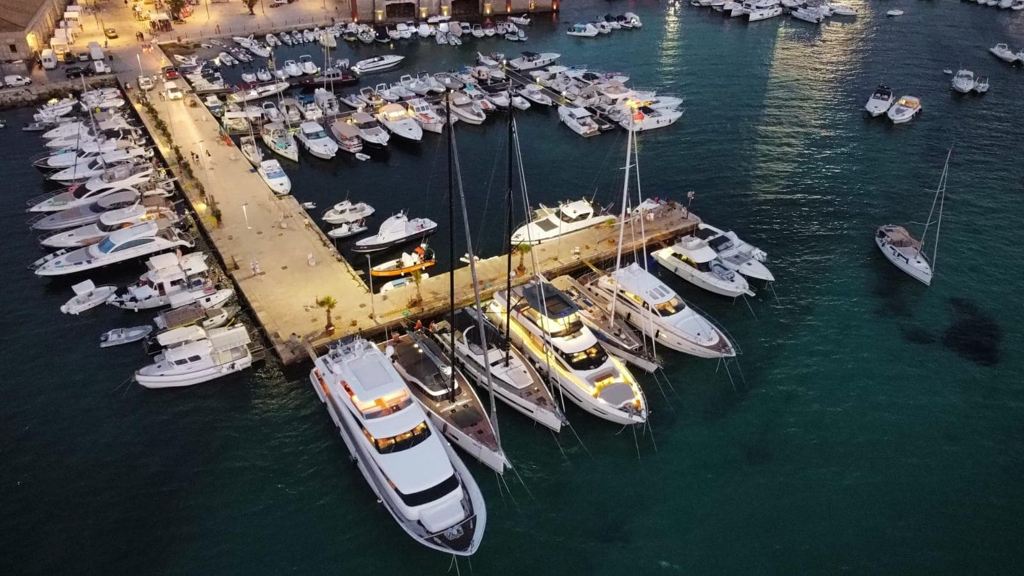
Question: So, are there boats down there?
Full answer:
Yes, the photo shows a boat.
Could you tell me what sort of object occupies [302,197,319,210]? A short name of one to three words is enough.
boat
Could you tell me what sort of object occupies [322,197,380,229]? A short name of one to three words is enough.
boat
